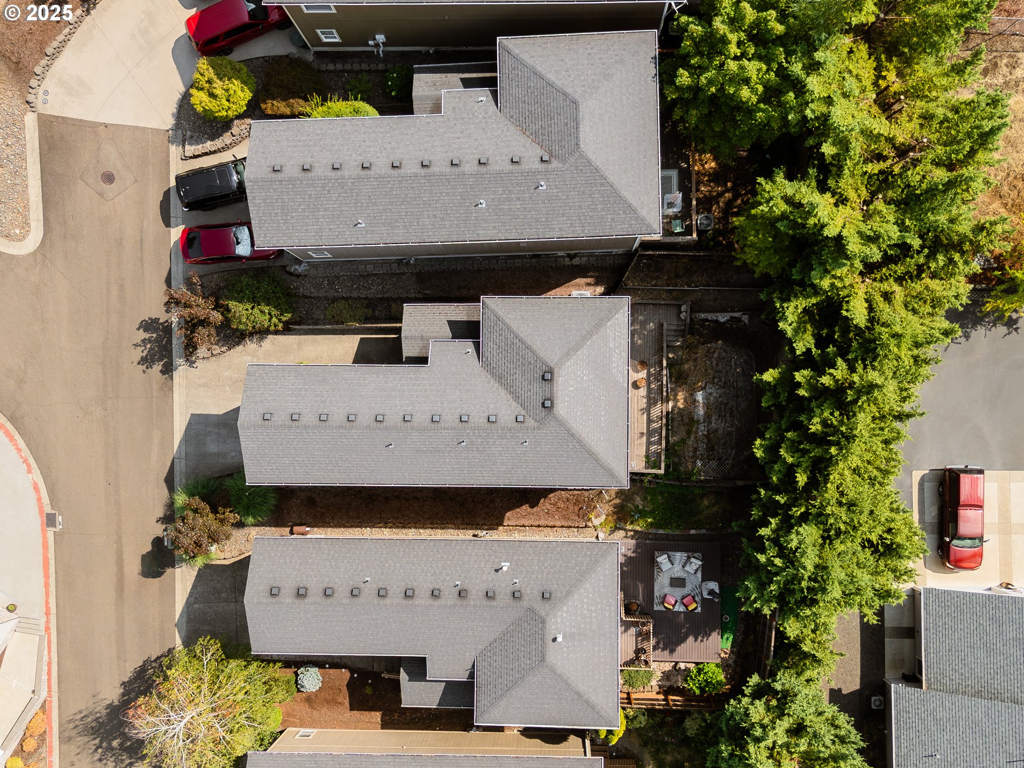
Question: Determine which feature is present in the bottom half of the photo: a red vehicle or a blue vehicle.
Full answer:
Visible in the bottom half of the photo is a red vehicle.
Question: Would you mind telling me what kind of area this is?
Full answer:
It's a residential area.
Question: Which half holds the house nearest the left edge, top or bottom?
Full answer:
The house nearest the left edge sits in the bottom half of the picture.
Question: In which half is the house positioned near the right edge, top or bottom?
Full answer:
The bottom half of the photo is where the house positioned near the right edge is.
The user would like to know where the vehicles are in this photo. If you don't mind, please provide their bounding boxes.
[181,0,291,60]
[934,464,993,573]
[175,150,245,216]
[177,211,265,266]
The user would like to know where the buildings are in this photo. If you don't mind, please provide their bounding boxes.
[240,530,622,733]
[885,585,1024,768]
[0,599,33,671]
[234,293,633,491]
[240,30,665,264]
